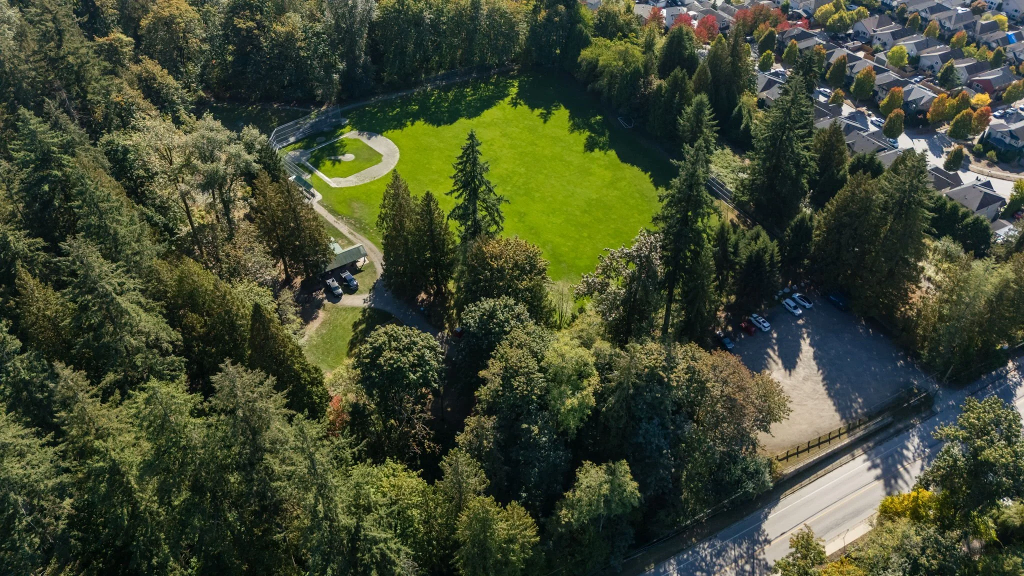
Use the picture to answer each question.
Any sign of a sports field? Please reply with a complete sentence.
Yes, looking at the shot, I can spot a sports field.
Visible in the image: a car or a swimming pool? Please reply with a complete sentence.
The image shows a car.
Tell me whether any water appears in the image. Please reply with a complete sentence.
No, the picture contains no water.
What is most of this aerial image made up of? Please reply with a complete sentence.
What you mostly see from above here is trees.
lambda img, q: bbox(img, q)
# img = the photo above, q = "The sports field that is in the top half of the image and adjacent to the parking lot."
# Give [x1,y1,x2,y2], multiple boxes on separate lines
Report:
[286,72,721,318]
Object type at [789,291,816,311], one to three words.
car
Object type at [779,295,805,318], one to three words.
car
